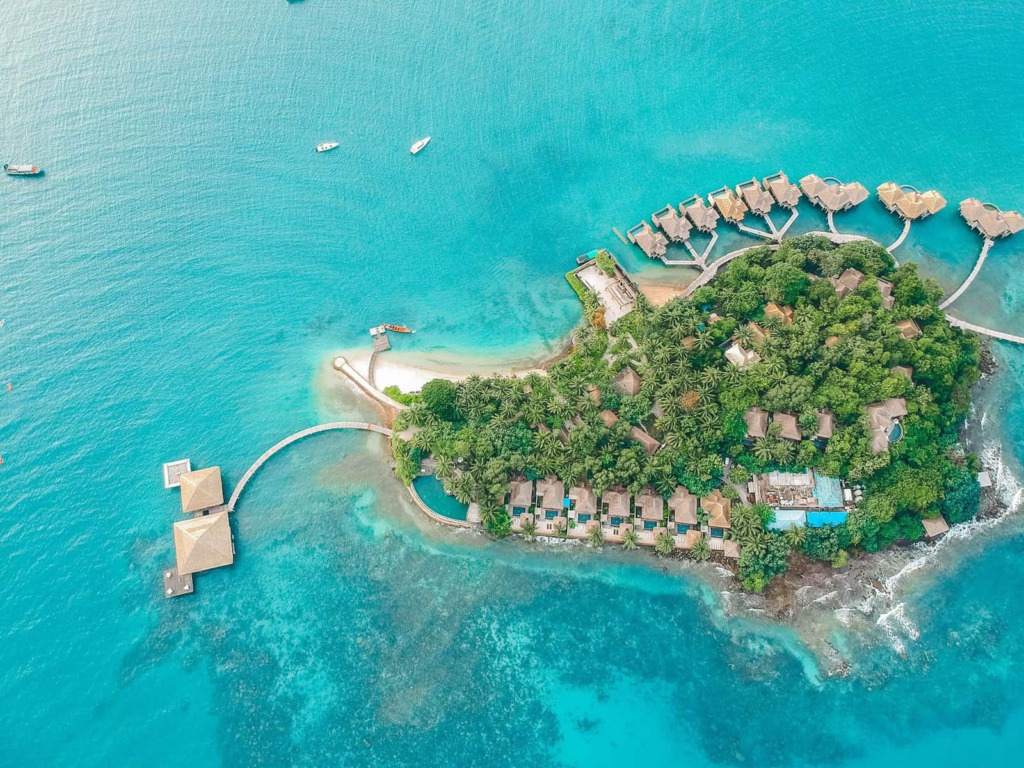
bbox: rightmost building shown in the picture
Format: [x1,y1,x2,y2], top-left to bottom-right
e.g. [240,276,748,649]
[952,200,1024,243]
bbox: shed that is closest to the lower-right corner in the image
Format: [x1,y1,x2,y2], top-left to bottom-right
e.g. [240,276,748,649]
[920,514,950,538]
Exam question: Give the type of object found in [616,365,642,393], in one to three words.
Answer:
building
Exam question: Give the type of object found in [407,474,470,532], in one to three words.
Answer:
swimming pool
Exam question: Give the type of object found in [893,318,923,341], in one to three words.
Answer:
house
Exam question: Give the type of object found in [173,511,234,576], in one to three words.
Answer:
building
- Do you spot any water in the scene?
Yes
